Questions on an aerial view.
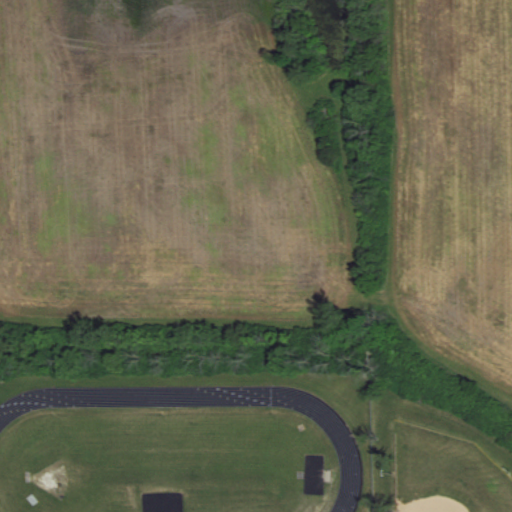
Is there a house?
No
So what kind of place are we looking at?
sports ground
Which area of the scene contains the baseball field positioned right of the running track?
bottom right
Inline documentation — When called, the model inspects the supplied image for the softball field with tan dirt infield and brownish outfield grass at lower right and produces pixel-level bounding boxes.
[396,421,512,512]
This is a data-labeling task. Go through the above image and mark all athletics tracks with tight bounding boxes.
[0,386,363,512]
